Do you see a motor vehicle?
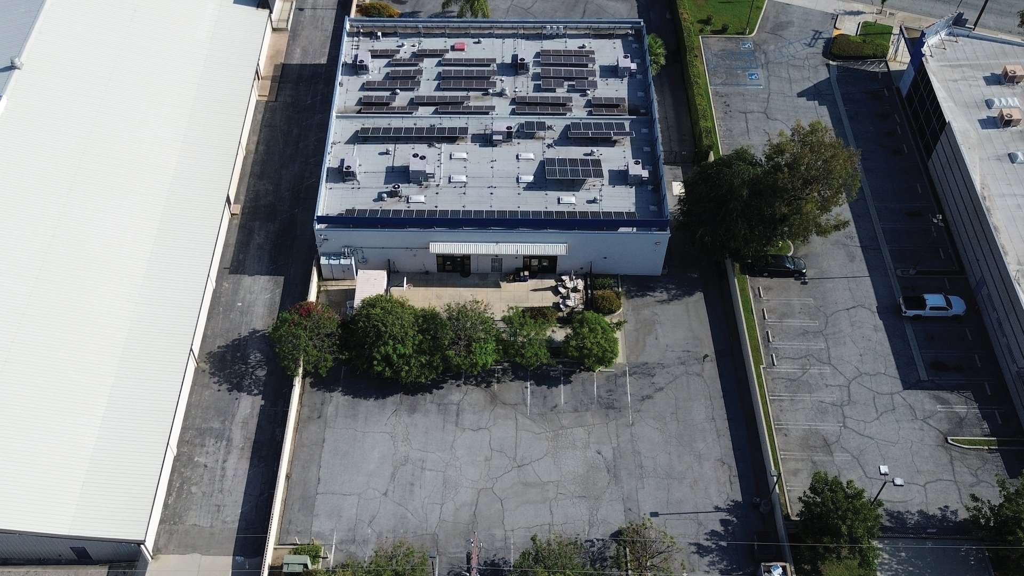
Yes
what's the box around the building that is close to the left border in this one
[0,0,276,558]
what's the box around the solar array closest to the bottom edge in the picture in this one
[345,202,637,228]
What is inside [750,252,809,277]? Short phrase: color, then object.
black car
